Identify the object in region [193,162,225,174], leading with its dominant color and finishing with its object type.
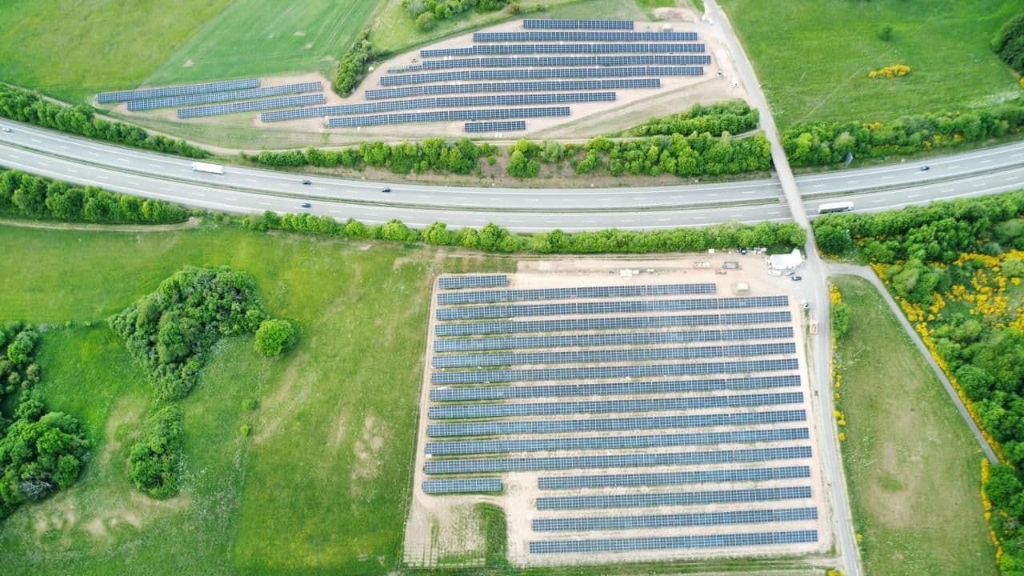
white vehicle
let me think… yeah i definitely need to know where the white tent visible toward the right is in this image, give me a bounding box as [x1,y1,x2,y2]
[768,248,801,271]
